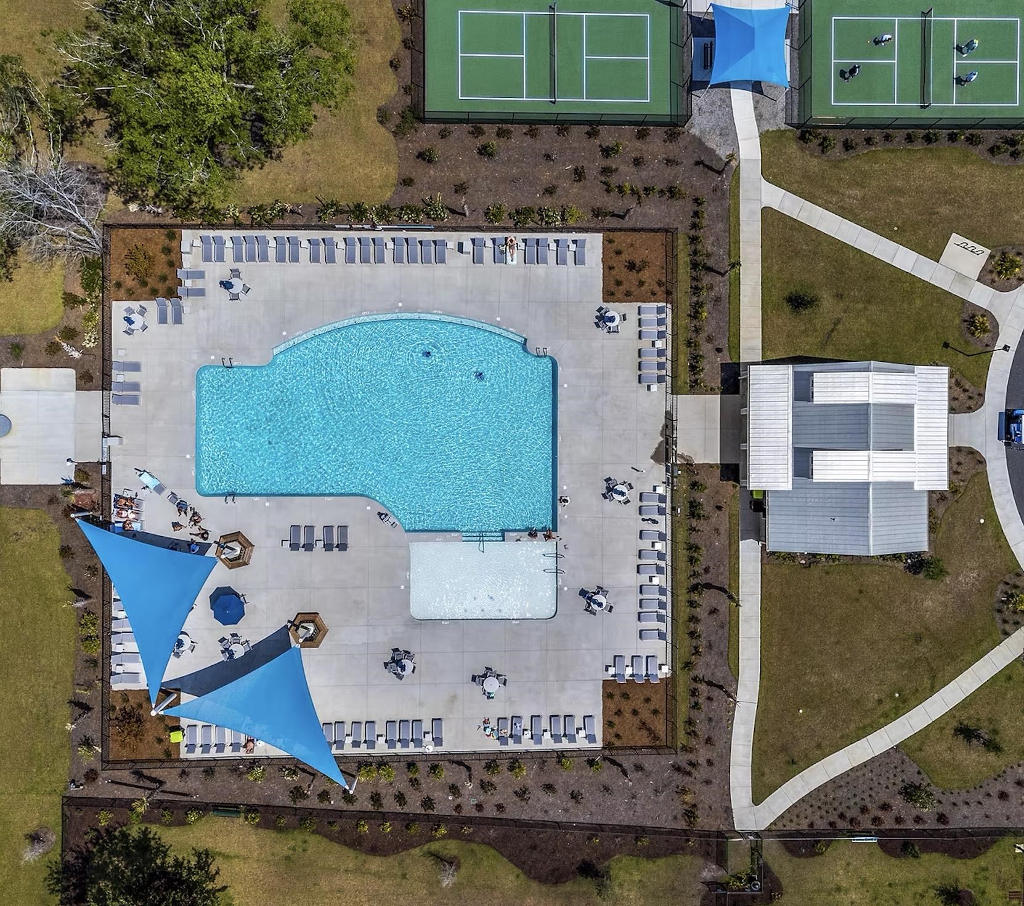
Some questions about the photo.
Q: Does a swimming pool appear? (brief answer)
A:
Yes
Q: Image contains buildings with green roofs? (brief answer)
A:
No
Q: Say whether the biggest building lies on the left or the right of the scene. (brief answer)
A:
right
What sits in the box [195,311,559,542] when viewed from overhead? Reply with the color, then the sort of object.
blue swimming pool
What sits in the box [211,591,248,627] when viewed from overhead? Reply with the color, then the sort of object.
blue umbrella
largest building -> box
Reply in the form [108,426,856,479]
[737,361,951,556]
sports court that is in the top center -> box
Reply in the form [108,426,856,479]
[424,0,683,126]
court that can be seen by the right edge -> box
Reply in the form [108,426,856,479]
[799,0,1024,129]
